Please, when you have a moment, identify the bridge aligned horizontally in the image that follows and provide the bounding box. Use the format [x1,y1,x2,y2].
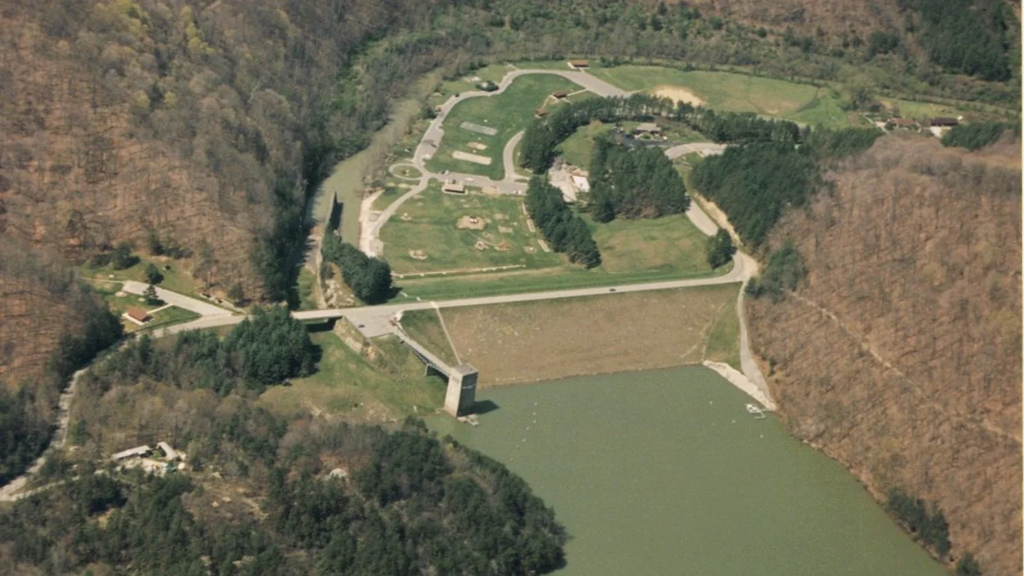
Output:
[289,307,347,327]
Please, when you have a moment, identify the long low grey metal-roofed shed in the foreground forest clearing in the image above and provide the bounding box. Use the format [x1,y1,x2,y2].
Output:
[108,444,153,462]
